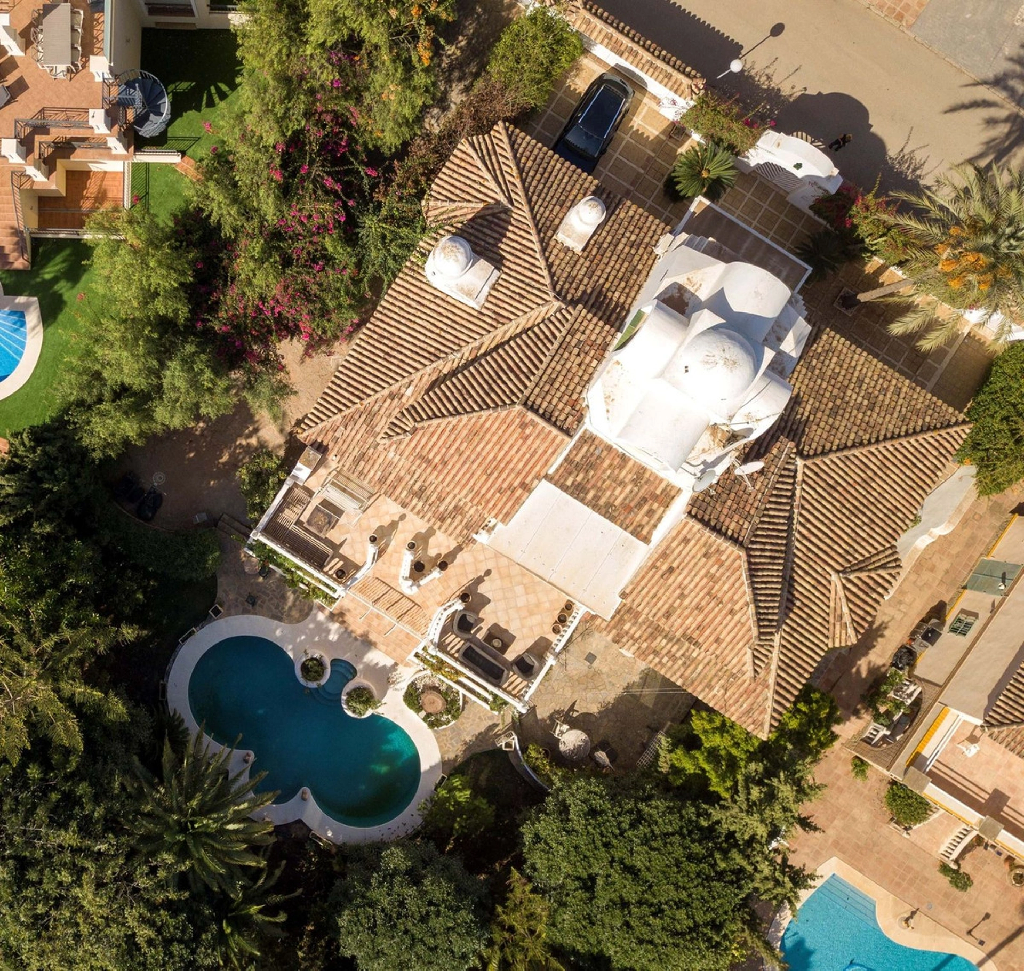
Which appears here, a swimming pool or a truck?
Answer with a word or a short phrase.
swimming pool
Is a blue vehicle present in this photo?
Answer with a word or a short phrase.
No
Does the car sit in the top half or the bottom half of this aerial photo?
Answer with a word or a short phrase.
top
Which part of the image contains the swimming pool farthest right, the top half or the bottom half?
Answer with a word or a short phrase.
bottom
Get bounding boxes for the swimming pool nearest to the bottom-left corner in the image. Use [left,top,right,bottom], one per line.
[188,636,421,828]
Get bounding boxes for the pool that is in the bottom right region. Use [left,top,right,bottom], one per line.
[778,875,979,971]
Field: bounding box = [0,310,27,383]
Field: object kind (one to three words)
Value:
swimming pool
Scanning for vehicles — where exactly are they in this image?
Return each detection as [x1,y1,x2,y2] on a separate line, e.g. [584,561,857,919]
[554,67,636,174]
